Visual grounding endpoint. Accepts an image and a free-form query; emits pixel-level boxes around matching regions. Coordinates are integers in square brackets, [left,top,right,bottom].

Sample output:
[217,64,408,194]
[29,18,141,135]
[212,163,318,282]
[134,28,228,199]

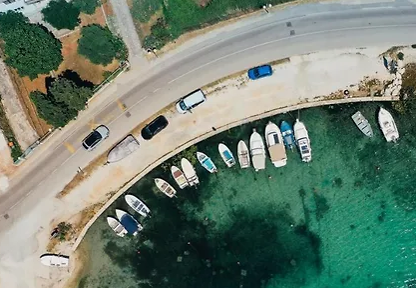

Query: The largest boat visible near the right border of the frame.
[380,100,400,146]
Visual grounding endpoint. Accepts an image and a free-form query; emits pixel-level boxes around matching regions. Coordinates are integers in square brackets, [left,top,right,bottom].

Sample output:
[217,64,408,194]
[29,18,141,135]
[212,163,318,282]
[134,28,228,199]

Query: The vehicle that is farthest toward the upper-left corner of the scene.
[81,122,112,150]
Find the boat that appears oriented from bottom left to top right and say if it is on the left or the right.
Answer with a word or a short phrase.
left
